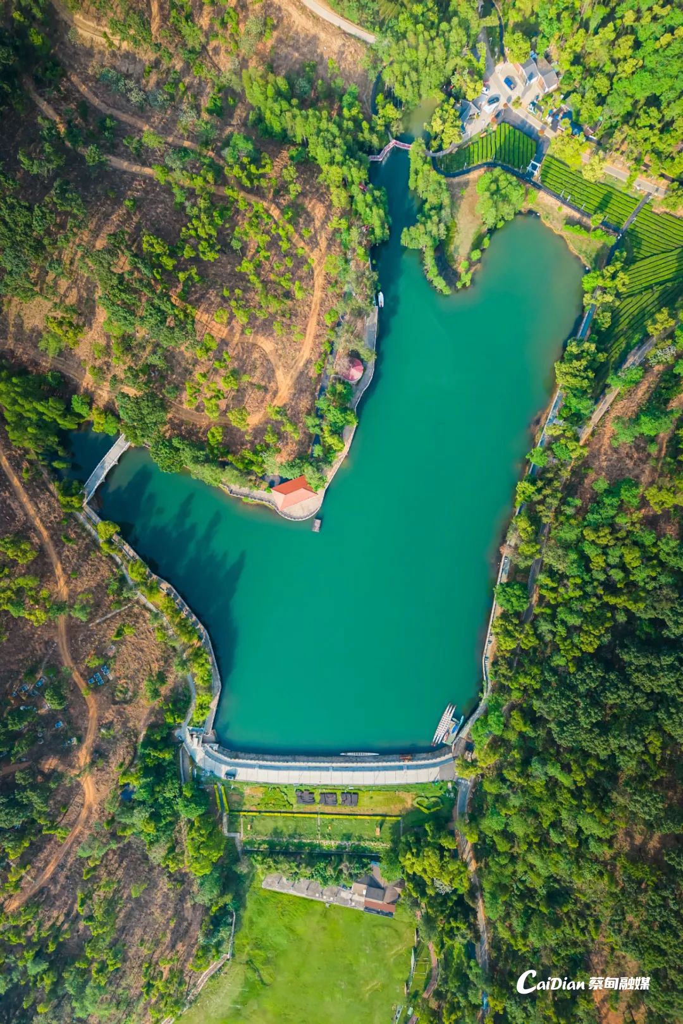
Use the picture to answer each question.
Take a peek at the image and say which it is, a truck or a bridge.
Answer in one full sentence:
It is a bridge that can be seen here.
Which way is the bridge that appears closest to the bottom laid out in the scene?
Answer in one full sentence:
The bridge that appears closest to the bottom is laid out at an angle.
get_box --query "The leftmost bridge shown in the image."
[82,439,130,496]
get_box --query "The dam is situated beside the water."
[188,743,455,786]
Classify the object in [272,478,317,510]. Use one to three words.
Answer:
house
